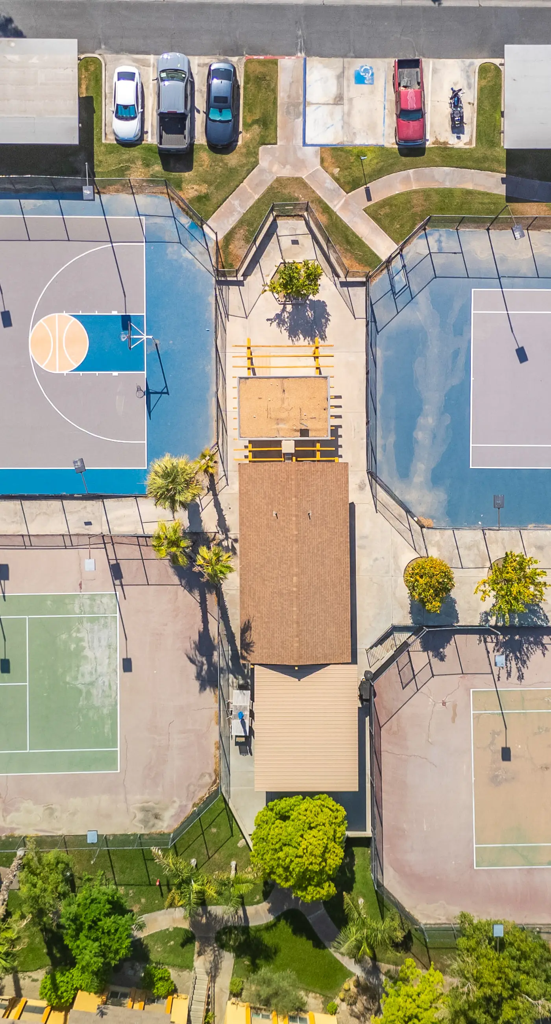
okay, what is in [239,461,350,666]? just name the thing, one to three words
building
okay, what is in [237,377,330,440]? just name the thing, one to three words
shed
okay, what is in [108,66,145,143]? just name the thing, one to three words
car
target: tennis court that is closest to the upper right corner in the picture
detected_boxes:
[366,230,551,526]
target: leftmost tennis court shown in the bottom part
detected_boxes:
[0,535,221,833]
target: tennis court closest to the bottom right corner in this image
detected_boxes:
[373,625,551,923]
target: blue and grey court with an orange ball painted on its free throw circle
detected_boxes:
[0,194,216,493]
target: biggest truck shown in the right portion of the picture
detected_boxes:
[392,59,429,146]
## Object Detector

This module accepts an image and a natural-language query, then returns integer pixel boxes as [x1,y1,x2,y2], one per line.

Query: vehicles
[153,53,194,156]
[450,86,466,124]
[108,66,145,143]
[392,59,429,146]
[202,63,241,148]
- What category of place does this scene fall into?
sports ground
